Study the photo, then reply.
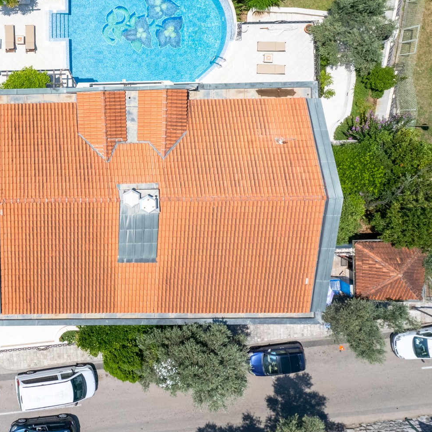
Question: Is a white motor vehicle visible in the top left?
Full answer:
No, there's no white motor vehicle to be seen in the top left.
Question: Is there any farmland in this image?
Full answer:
No, there is no farmland in the image.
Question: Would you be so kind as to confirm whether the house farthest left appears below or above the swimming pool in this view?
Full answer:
From this view, the house farthest left can be seen below the swimming pool.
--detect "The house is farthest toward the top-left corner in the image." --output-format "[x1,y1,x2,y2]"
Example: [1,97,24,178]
[0,80,342,326]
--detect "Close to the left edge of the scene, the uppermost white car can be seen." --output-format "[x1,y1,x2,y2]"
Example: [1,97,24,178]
[15,365,95,411]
